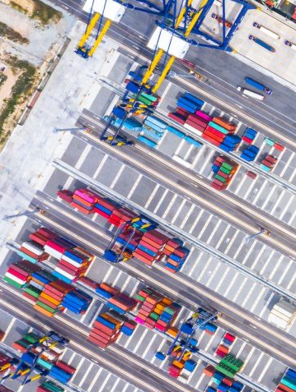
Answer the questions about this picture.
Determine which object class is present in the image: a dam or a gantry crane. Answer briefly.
gantry crane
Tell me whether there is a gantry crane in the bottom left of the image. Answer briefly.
Yes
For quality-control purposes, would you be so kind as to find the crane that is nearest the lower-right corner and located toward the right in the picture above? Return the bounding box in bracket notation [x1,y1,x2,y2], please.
[161,302,215,360]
